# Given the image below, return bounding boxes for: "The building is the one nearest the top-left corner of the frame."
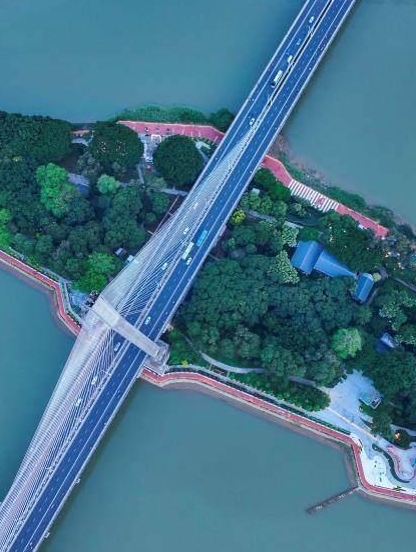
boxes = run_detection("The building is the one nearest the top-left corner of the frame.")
[66,173,91,194]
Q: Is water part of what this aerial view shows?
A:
Yes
